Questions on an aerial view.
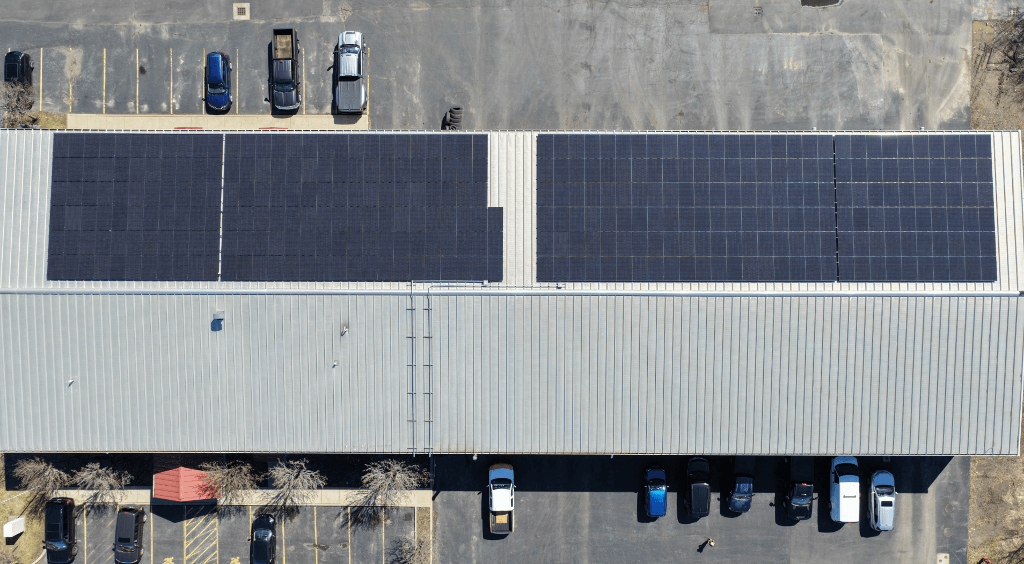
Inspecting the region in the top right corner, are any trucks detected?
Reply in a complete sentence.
No, there's no truck to be seen in the top right corner.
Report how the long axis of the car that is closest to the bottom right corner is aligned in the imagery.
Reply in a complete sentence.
The car that is closest to the bottom right corner is laid out from top to bottom.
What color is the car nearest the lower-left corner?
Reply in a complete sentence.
The car nearest the lower-left corner looks black in the image.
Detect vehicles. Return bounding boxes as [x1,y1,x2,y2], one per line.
[42,496,77,562]
[785,455,820,522]
[727,455,757,514]
[0,48,33,108]
[828,455,861,524]
[332,30,367,114]
[486,462,516,534]
[203,51,232,110]
[267,29,302,109]
[867,470,898,532]
[247,513,276,564]
[111,501,146,564]
[642,465,669,519]
[683,456,713,519]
